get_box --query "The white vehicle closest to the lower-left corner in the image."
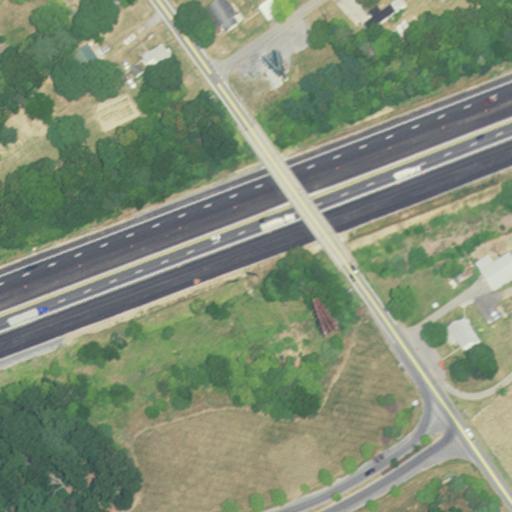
[7,306,48,326]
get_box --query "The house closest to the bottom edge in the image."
[448,315,481,351]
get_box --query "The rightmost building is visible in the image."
[474,248,512,290]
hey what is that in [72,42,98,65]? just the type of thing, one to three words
house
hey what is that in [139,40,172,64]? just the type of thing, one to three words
house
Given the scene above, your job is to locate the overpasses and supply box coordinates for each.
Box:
[258,147,357,273]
